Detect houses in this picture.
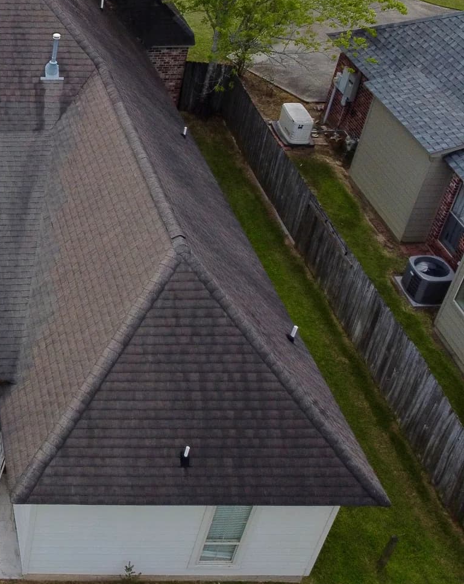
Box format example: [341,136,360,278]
[310,28,464,373]
[0,0,392,582]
